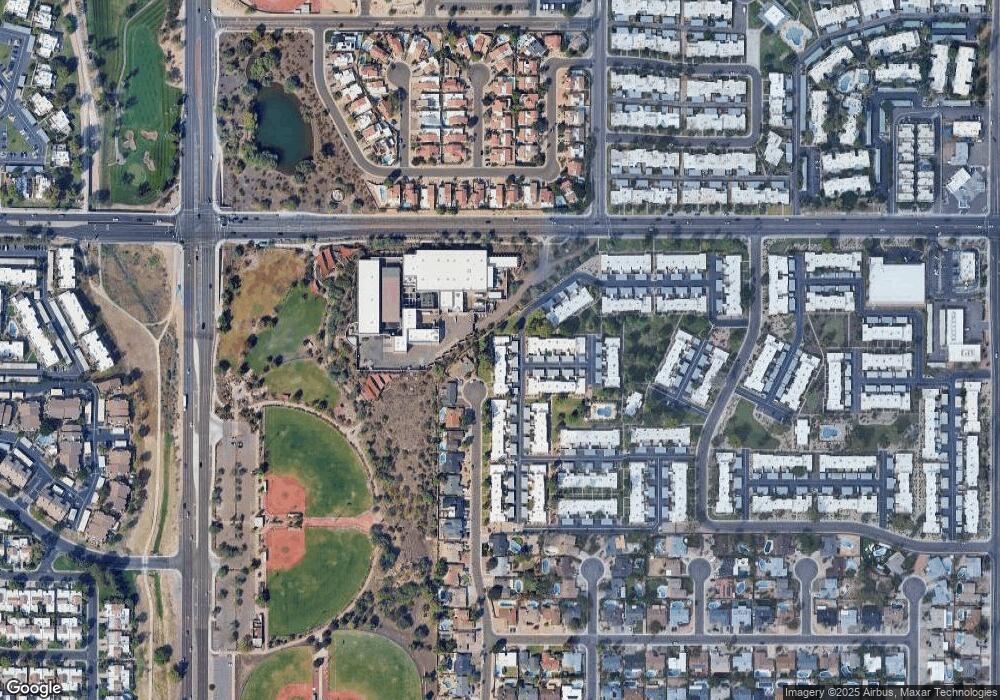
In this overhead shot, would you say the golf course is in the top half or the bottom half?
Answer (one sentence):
You can find the golf course in the top half.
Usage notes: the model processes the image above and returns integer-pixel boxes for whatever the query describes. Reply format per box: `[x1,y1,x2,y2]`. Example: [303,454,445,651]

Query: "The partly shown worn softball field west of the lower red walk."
[241,645,313,700]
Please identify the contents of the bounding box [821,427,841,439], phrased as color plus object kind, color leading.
blue swimming pool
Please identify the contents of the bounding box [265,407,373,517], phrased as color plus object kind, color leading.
green baseball field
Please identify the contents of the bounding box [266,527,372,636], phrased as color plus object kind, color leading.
green baseball field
